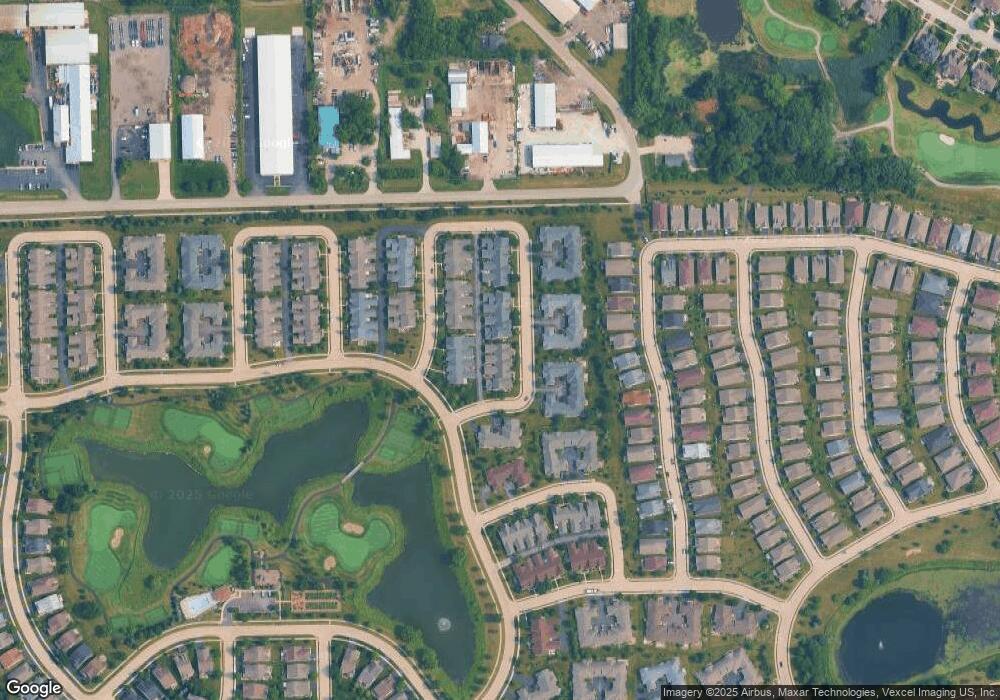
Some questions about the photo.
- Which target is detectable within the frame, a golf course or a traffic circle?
golf course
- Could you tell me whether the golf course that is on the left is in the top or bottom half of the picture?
bottom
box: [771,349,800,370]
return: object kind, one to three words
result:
house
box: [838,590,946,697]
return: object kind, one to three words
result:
pond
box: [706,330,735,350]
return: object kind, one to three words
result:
house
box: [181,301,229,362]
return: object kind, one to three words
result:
building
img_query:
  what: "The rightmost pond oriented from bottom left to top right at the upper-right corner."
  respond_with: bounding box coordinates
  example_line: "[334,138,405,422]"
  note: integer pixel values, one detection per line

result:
[830,3,923,126]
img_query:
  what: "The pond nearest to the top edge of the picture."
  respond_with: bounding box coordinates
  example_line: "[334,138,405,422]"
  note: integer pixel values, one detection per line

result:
[694,0,744,42]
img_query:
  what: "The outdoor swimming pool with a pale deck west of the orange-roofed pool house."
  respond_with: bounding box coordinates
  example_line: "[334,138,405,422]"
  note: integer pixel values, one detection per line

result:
[182,593,215,619]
